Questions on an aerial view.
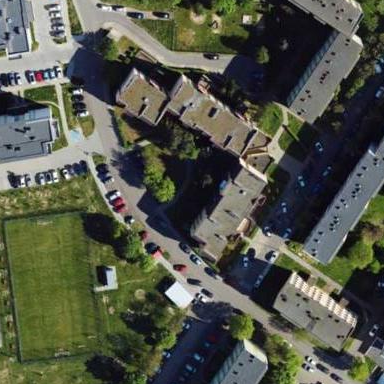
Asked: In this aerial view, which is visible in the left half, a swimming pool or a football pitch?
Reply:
football pitch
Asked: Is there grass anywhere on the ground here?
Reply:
Yes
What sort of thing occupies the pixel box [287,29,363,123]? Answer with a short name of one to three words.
building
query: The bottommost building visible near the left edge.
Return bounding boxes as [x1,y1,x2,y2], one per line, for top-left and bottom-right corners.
[0,111,53,161]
